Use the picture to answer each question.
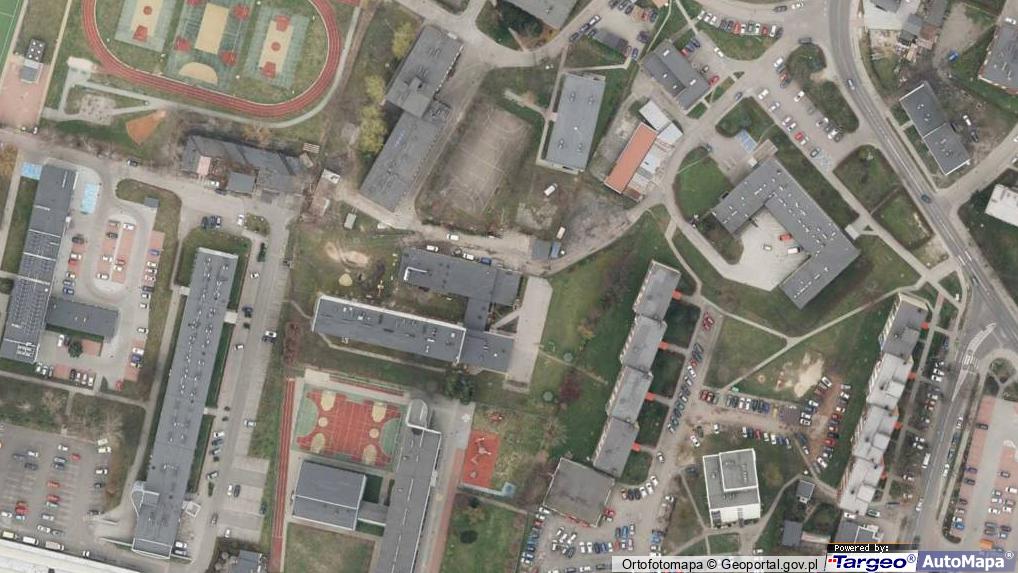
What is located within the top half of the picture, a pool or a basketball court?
basketball court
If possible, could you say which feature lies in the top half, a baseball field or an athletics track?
athletics track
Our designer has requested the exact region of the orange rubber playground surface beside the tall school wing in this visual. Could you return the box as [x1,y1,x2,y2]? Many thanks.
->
[462,430,500,489]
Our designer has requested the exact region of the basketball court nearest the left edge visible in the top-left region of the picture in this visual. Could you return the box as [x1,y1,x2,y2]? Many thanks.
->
[116,0,174,51]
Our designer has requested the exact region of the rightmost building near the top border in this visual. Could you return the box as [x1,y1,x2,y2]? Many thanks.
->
[975,21,1018,108]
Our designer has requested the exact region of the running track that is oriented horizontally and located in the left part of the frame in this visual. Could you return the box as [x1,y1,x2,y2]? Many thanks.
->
[83,0,358,115]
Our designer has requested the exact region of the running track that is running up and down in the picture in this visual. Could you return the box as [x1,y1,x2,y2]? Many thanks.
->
[271,378,296,573]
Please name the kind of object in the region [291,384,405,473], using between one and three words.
sports court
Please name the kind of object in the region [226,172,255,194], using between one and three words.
shed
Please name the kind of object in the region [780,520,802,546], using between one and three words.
house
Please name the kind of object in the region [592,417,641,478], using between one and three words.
building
